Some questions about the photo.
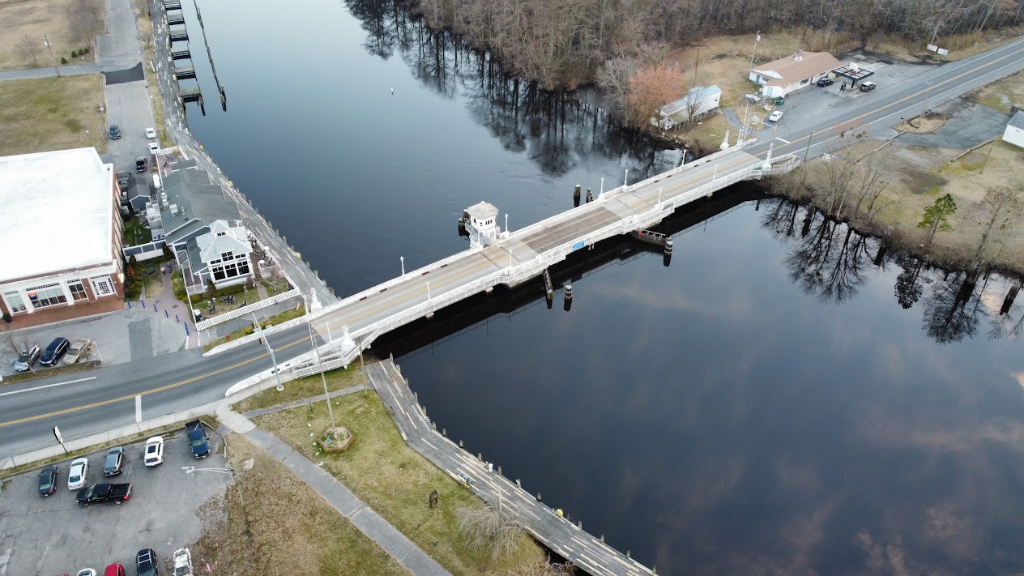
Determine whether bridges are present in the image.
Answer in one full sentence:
Yes, there's a bridge here.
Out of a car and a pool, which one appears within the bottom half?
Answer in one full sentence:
There is a car within the bottom half.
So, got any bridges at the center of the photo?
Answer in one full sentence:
Yes, a bridge appears at the center of the photo.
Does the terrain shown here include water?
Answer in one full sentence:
Yes, there's water in this view.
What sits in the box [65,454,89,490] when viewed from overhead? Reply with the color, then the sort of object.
white car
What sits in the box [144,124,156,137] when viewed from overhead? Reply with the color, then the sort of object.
white vehicle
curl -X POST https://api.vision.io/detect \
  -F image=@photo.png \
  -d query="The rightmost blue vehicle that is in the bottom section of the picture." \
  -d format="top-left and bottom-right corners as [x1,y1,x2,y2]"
[185,415,209,457]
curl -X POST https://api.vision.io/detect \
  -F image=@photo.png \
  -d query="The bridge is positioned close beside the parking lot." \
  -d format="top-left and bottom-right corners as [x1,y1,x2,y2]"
[202,135,797,400]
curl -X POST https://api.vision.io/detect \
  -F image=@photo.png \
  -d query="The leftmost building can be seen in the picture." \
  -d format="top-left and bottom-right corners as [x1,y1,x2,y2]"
[0,145,128,320]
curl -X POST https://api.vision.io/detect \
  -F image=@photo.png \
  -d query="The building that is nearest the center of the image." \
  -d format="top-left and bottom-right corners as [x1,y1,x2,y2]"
[457,203,511,252]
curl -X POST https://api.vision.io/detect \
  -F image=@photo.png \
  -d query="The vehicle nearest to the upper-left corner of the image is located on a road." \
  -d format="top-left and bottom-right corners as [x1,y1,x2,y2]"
[107,122,120,138]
